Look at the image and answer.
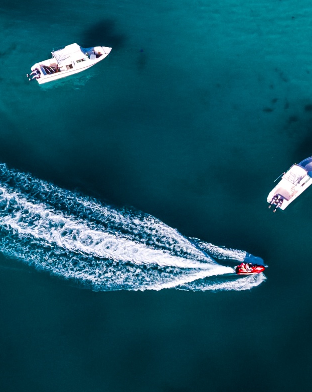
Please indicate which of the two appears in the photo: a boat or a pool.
boat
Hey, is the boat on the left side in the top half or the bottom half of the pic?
top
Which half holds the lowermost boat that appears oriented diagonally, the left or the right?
right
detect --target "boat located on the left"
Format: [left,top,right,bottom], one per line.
[24,43,111,84]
